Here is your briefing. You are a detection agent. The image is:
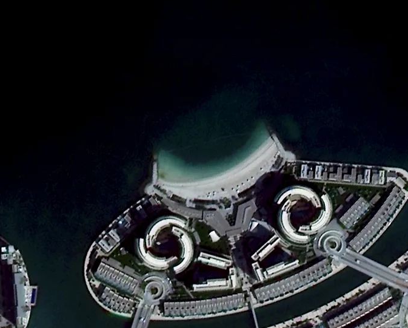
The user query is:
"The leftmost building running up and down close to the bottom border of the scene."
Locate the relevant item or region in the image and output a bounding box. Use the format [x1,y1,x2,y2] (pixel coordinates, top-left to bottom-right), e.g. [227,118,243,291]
[0,246,30,328]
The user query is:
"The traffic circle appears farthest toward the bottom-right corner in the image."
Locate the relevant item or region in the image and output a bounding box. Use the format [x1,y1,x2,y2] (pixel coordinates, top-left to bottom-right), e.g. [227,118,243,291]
[316,228,349,261]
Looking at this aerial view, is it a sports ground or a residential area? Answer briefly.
residential area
